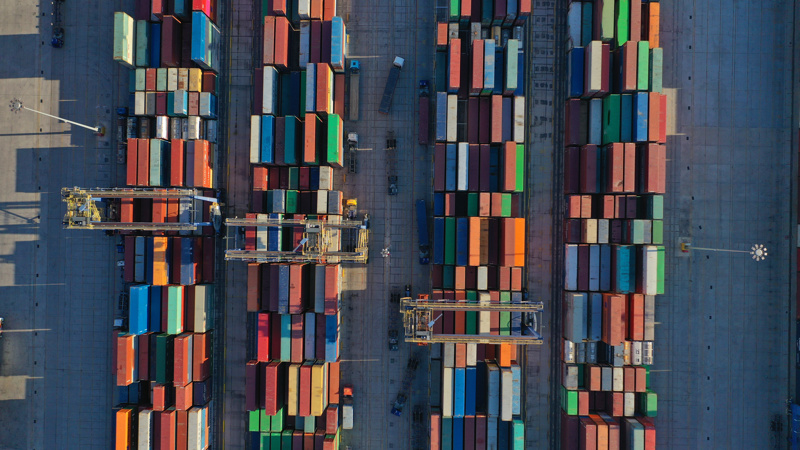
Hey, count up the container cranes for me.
3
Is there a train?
No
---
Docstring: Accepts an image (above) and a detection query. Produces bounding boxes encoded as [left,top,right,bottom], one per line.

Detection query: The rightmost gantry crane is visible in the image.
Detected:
[396,280,544,348]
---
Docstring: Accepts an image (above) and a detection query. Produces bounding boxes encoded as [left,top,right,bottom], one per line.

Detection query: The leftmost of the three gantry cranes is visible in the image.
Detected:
[56,184,227,240]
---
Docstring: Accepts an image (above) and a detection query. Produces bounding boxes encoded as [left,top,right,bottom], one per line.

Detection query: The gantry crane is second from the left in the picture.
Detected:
[223,207,374,266]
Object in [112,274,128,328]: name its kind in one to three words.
vehicle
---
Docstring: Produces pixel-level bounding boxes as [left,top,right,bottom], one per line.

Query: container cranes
[56,184,227,240]
[223,207,374,266]
[396,280,544,348]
